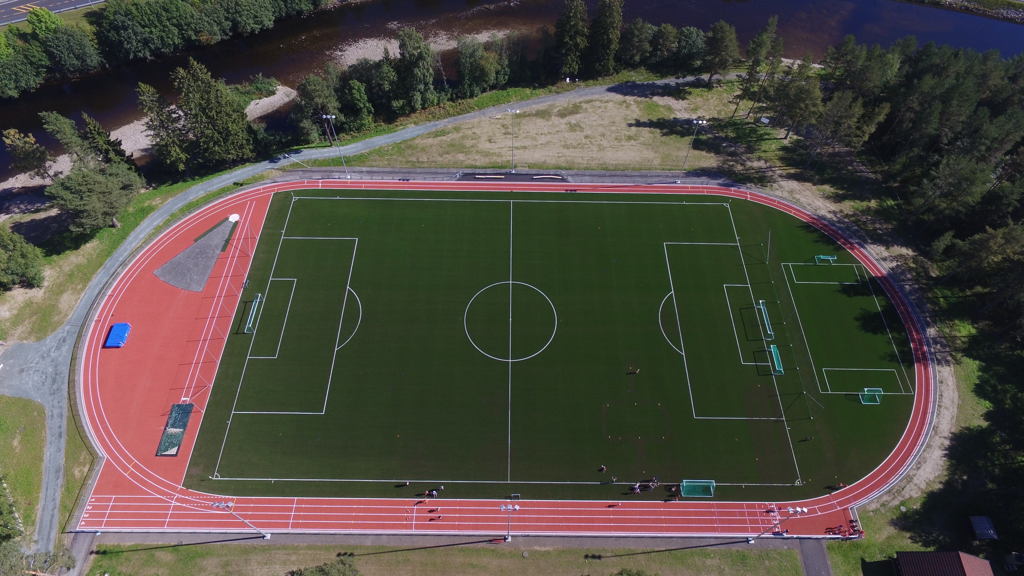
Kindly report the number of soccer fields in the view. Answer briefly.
2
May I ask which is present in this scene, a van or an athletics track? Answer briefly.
athletics track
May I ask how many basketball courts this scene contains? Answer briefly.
0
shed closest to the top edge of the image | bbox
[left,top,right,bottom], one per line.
[963,516,998,542]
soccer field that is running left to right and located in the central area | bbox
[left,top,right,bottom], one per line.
[181,188,919,502]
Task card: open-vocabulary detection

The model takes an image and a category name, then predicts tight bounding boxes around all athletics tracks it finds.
[77,179,935,537]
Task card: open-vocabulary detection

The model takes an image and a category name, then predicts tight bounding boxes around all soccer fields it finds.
[782,263,914,393]
[181,188,919,502]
